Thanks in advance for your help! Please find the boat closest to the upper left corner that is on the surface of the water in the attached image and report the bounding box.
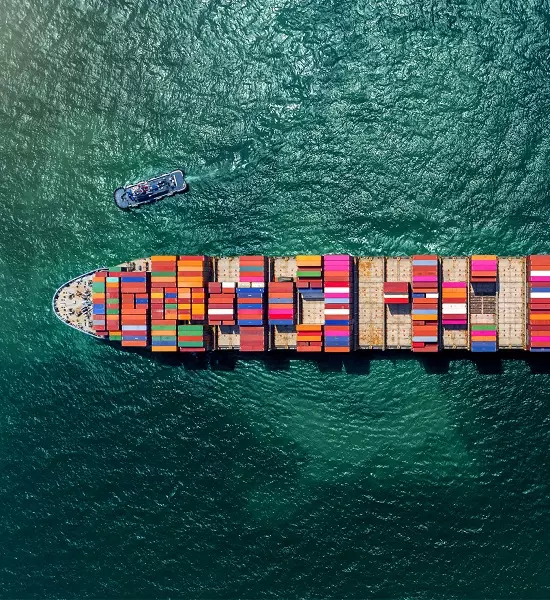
[115,172,188,207]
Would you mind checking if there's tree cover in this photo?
No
